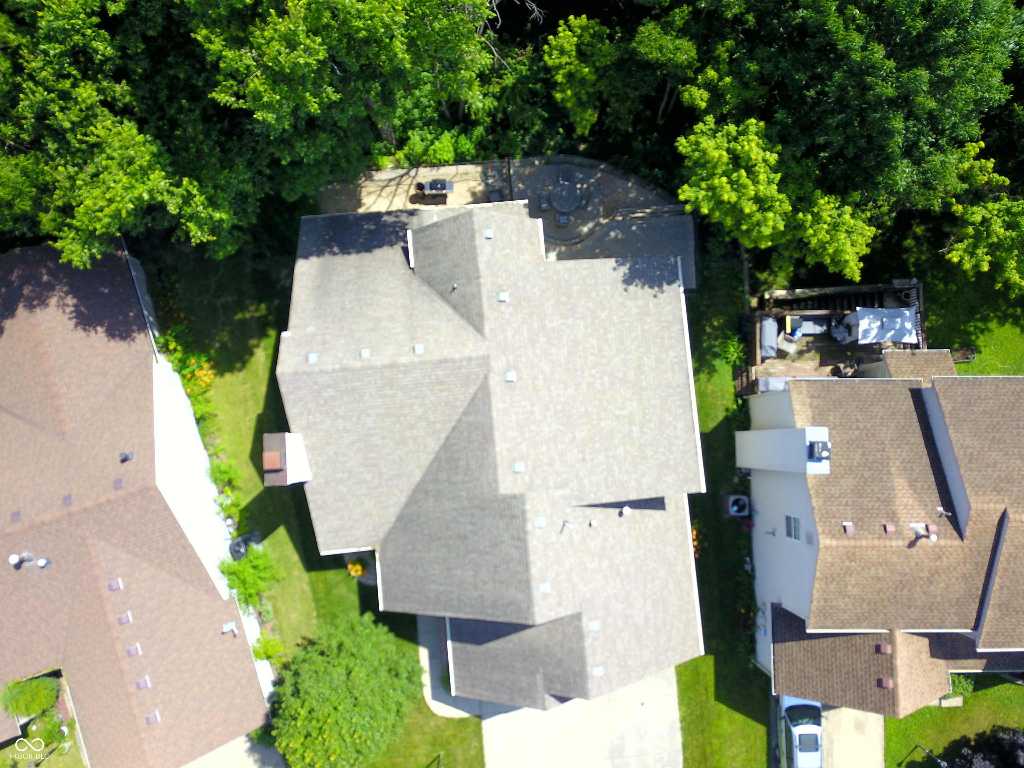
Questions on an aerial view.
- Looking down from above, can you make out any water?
No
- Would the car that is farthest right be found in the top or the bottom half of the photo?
bottom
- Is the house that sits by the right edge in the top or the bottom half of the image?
bottom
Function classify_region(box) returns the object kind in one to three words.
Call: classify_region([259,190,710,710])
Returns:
house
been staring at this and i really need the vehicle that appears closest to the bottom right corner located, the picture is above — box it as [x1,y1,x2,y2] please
[773,694,829,768]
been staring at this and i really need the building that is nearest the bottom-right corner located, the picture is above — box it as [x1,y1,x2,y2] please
[735,346,1024,718]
